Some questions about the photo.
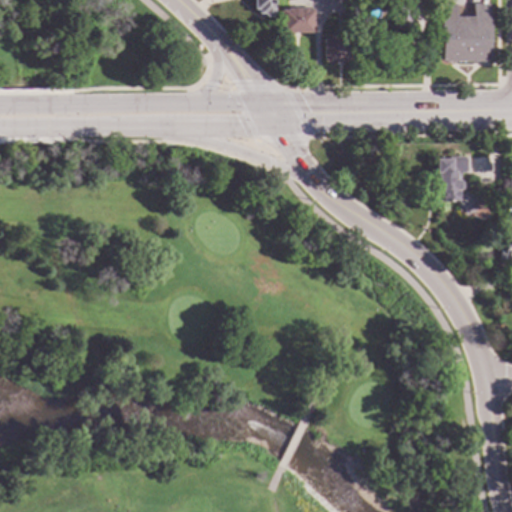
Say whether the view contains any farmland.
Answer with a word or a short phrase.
No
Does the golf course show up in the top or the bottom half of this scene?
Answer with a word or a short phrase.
bottom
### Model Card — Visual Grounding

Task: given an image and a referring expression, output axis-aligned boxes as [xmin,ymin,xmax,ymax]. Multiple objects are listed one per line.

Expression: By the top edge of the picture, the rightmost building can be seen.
[446,1,496,62]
